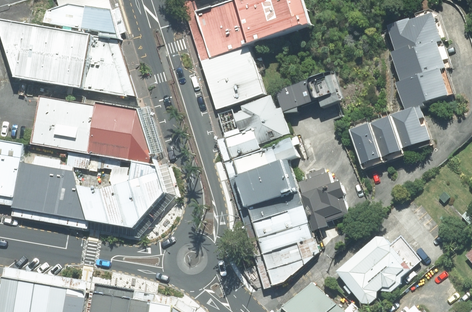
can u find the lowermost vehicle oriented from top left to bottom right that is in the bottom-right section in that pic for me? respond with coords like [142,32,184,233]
[416,248,430,266]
